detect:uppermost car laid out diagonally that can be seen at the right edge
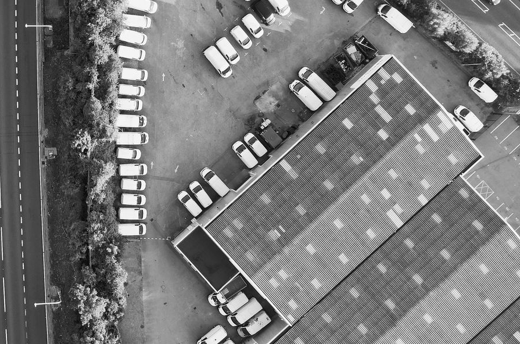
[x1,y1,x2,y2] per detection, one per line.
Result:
[467,78,497,104]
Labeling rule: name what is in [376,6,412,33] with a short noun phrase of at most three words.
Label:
vehicle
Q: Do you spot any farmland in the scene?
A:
No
